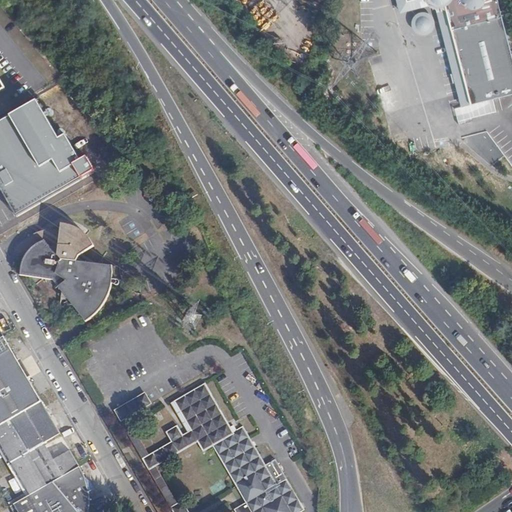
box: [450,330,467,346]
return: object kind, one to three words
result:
vehicle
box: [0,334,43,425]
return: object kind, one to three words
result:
building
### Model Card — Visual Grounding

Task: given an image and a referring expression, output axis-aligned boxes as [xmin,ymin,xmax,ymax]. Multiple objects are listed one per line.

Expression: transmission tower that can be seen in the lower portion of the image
[180,310,202,332]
